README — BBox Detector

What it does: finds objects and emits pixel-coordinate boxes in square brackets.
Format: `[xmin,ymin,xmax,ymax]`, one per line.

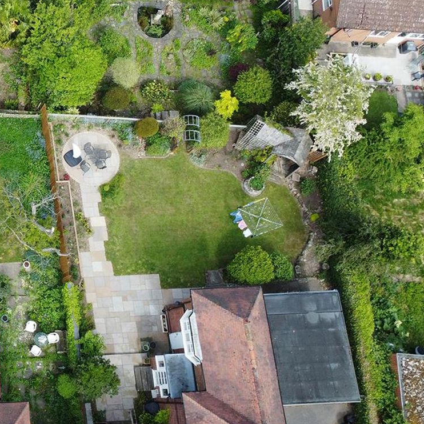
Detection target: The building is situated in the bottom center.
[146,283,362,424]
